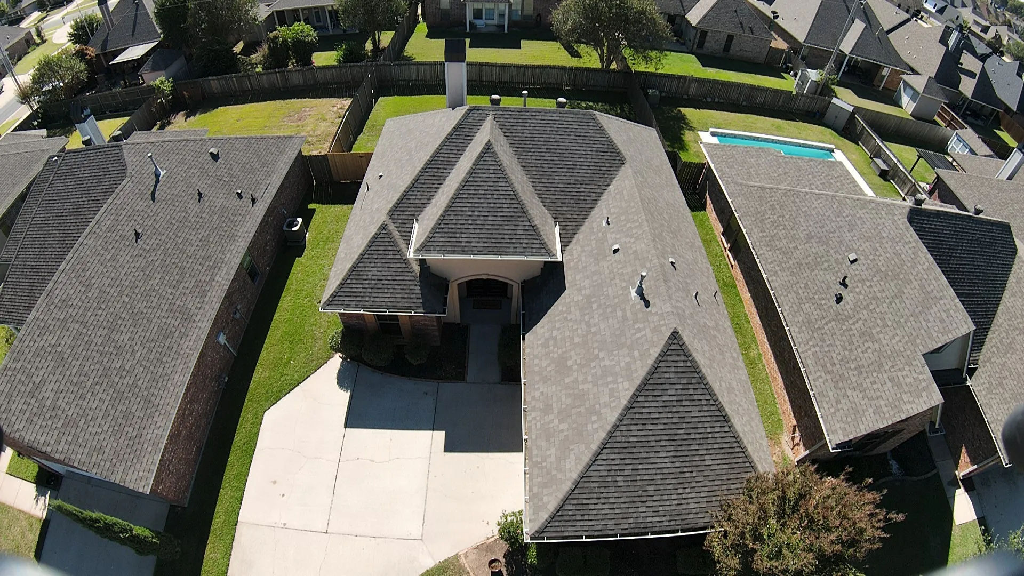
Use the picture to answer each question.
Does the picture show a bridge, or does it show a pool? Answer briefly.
pool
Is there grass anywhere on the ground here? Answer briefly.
Yes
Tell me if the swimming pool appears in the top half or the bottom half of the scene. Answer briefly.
top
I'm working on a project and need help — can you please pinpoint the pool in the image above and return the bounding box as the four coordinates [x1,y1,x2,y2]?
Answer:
[687,126,881,199]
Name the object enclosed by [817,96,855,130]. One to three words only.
shed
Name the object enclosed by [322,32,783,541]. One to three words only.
house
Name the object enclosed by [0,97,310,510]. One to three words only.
house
